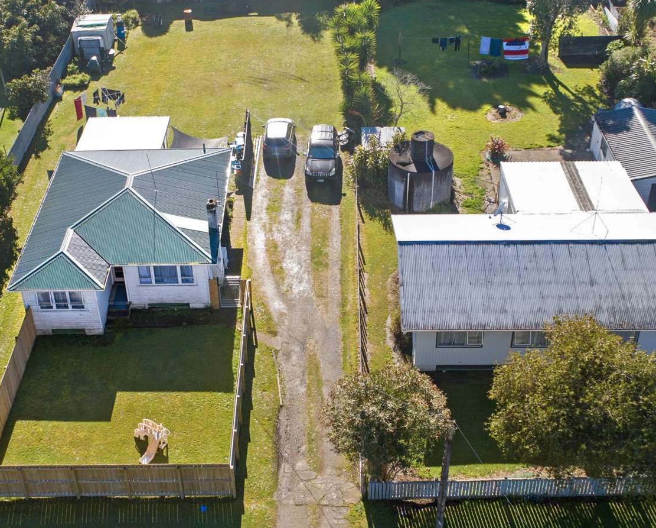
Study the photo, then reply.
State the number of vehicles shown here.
2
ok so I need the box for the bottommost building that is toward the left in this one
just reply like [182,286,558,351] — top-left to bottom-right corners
[8,145,232,333]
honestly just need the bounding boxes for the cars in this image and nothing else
[262,116,296,159]
[301,123,339,183]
